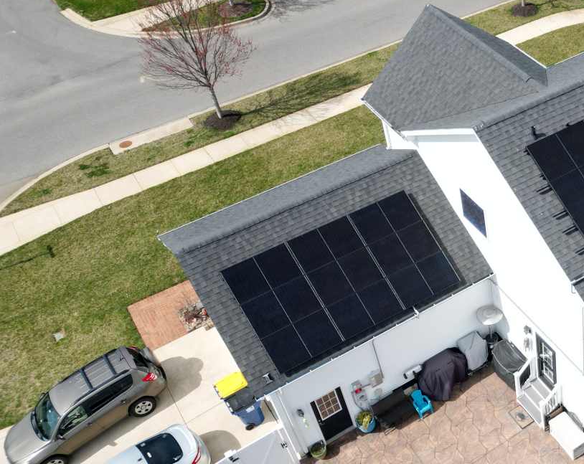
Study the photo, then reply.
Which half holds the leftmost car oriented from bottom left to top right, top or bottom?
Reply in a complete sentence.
The bottom half of the photo is where the leftmost car oriented from bottom left to top right is.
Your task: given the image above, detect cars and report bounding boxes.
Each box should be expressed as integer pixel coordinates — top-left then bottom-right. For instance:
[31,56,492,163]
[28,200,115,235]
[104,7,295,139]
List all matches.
[0,341,173,464]
[82,421,211,464]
